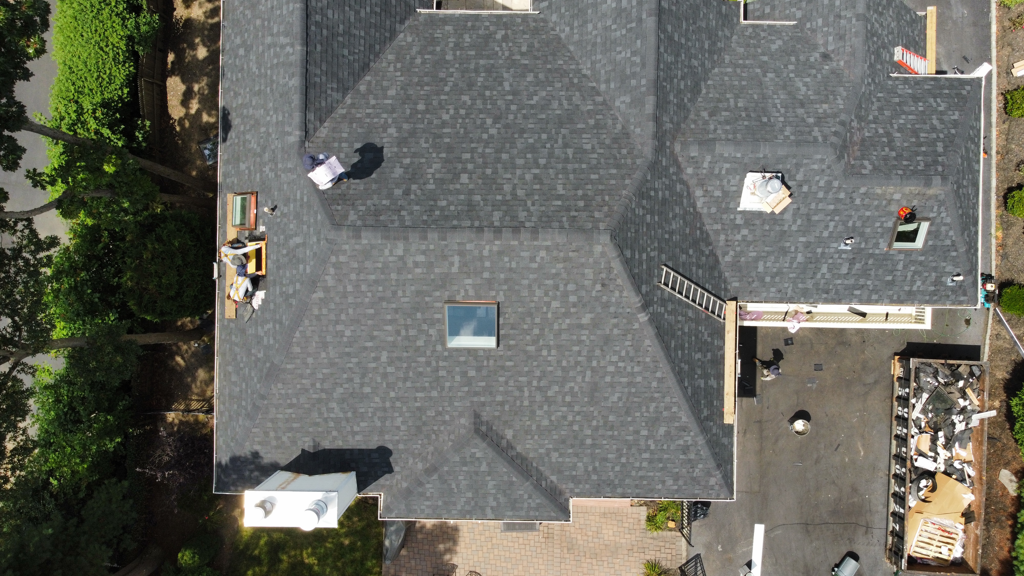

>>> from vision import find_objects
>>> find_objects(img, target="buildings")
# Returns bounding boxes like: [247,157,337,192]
[214,0,996,531]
